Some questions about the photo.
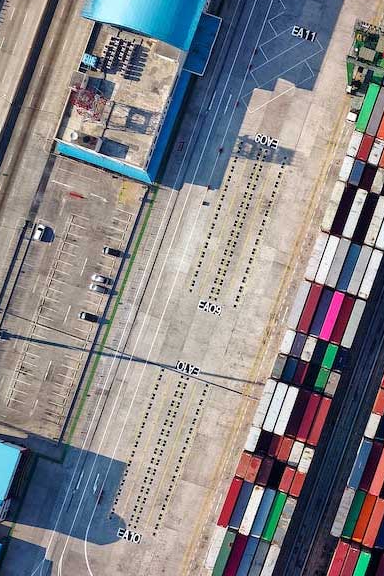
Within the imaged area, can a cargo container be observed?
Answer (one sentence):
Yes, a cargo container can be made out from above.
